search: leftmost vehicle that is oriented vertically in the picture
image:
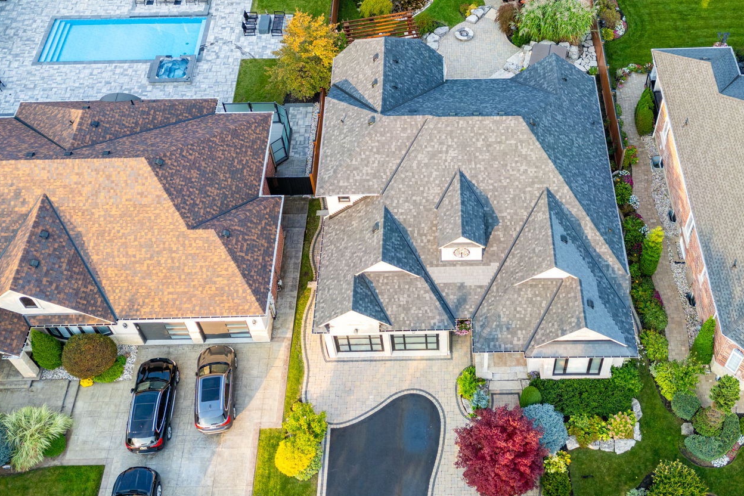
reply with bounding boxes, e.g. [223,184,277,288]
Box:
[119,360,179,461]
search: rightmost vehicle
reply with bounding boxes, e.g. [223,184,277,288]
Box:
[188,347,237,441]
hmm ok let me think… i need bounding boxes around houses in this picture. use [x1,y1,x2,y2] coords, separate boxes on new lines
[310,36,641,378]
[0,97,286,386]
[650,45,744,383]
